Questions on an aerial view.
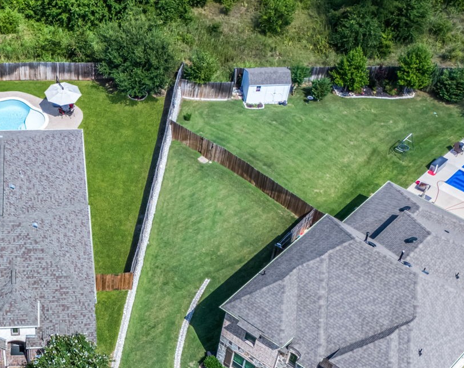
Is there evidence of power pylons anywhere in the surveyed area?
No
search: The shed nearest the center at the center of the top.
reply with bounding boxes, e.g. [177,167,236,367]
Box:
[242,65,292,104]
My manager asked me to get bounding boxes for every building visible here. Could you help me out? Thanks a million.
[218,181,464,368]
[0,129,100,368]
[242,65,292,104]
